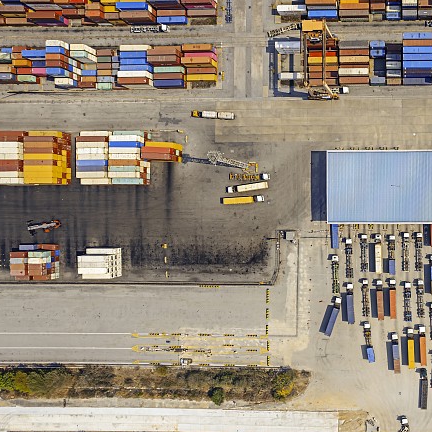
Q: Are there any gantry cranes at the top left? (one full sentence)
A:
No, the scene shows no gantry crane at the top left.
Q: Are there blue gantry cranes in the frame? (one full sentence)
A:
No, I can see no blue gantry crane in this picture.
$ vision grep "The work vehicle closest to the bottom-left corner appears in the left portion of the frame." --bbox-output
[18,219,59,237]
